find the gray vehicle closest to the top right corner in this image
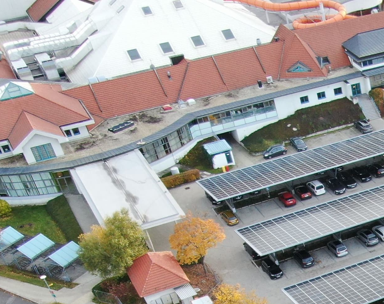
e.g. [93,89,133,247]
[354,122,374,135]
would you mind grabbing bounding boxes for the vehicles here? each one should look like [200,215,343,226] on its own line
[326,179,347,196]
[306,181,327,198]
[289,137,310,151]
[367,163,384,179]
[351,165,372,182]
[337,174,357,190]
[263,144,289,158]
[261,256,284,280]
[354,122,374,135]
[356,231,381,249]
[204,193,221,208]
[294,188,314,203]
[249,189,265,200]
[332,165,348,175]
[233,193,249,205]
[293,250,317,270]
[371,227,384,245]
[327,241,349,260]
[278,193,298,208]
[221,212,240,228]
[246,247,266,266]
